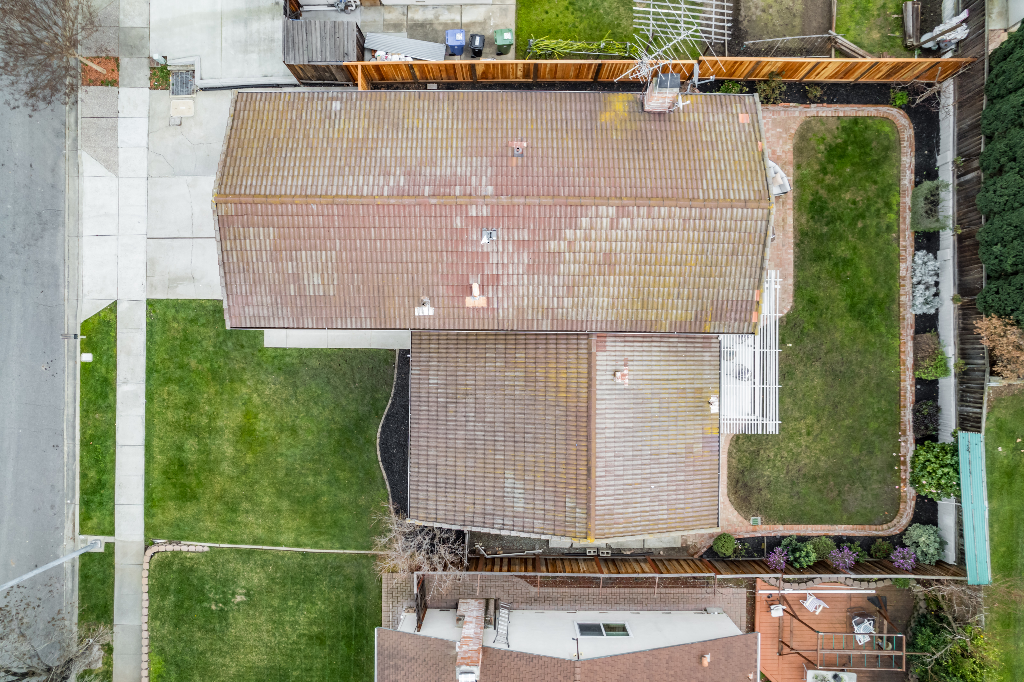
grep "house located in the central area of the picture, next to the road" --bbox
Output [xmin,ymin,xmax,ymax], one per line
[209,72,774,546]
